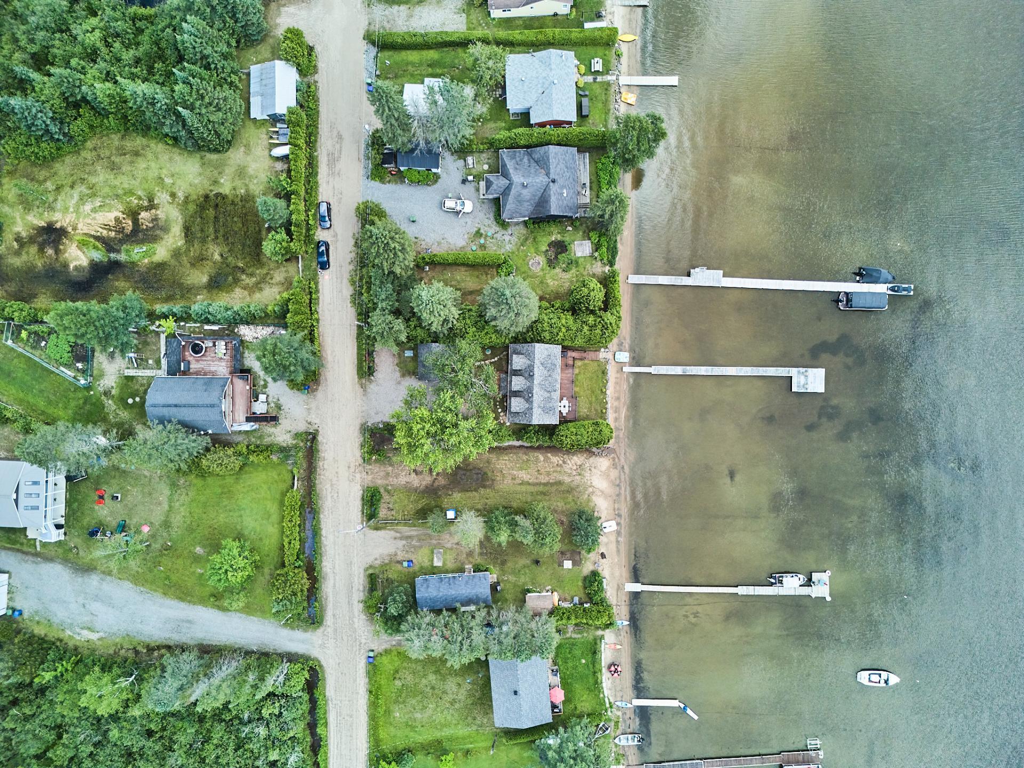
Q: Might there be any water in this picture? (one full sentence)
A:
Yes, the picture does contain water.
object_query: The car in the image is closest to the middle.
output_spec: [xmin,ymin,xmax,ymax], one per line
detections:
[441,194,472,217]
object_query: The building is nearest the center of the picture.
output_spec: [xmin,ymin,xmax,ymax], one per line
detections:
[498,343,561,425]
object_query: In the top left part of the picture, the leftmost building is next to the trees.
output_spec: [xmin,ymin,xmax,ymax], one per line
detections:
[244,60,299,125]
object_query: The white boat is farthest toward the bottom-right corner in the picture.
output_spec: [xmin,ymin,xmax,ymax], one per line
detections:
[856,672,903,688]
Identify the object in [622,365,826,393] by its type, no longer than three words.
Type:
pier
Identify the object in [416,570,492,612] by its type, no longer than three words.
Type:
house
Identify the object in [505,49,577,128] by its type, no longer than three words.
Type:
house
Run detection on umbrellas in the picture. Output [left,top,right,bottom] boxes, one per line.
[550,687,563,702]
[610,663,621,676]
